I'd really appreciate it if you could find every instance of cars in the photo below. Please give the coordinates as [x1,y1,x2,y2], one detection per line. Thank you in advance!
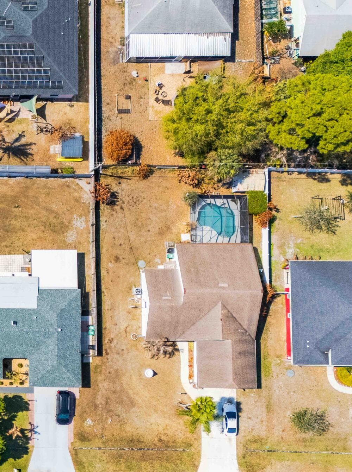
[222,403,239,437]
[56,389,72,424]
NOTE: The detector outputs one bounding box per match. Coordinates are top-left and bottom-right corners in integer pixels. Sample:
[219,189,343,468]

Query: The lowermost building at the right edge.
[285,260,352,367]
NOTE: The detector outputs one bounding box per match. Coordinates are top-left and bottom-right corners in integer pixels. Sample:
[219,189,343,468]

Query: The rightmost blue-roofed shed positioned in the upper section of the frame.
[59,134,84,158]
